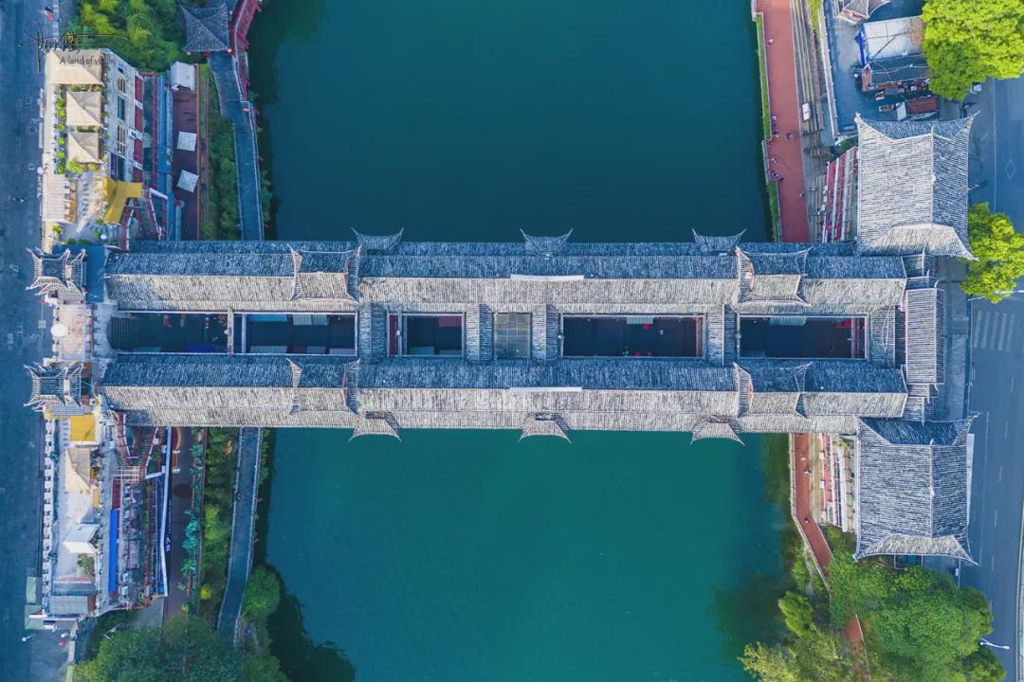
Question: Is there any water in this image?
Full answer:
Yes, the picture does contain water.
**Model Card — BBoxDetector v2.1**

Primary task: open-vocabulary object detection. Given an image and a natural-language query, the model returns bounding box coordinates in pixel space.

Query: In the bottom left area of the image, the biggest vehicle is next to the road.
[33,619,58,632]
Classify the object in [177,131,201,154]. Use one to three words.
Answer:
tent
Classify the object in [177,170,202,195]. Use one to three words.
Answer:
tent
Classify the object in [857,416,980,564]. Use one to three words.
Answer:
building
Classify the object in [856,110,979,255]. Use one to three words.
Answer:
building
